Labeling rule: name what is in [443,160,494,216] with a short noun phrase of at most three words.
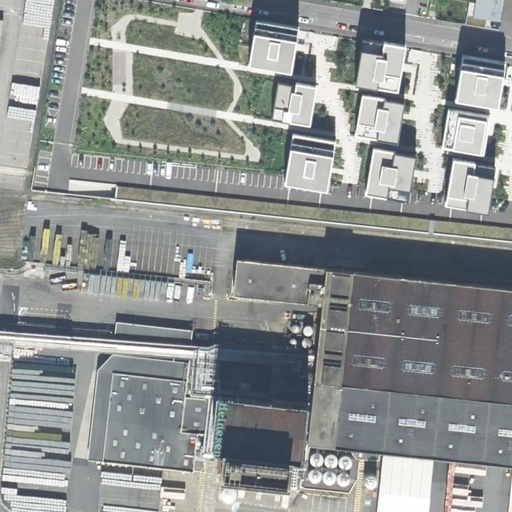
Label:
building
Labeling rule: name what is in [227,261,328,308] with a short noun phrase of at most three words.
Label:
shed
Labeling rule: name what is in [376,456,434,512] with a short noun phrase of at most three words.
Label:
building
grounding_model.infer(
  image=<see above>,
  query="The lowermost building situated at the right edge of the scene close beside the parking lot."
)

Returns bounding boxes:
[336,275,512,468]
